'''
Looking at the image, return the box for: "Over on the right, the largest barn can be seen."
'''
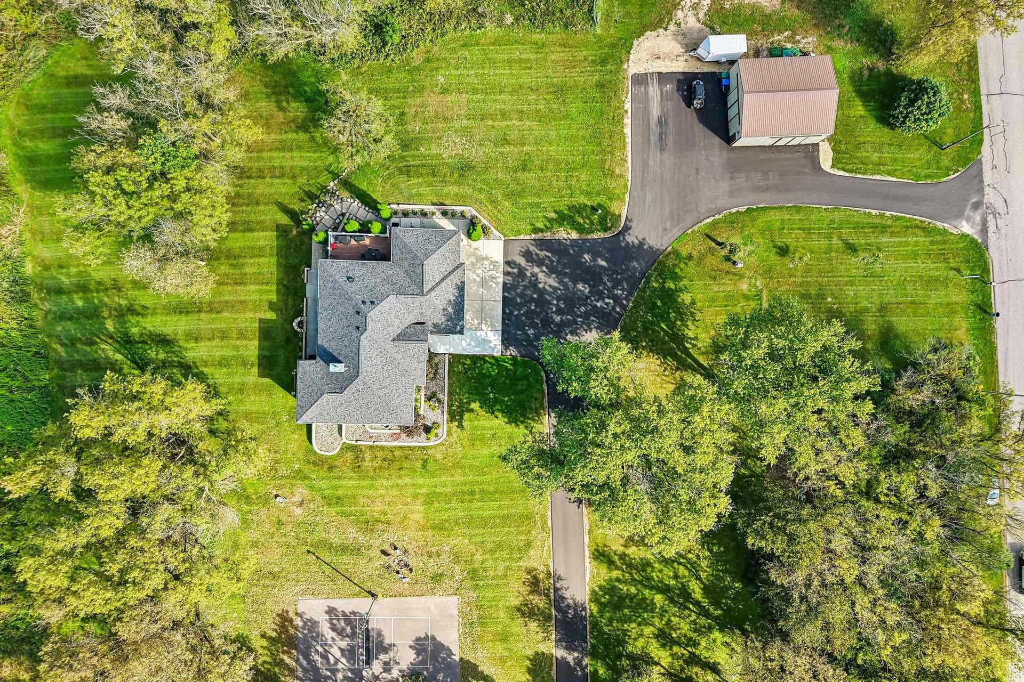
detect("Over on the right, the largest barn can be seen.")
[728,56,841,146]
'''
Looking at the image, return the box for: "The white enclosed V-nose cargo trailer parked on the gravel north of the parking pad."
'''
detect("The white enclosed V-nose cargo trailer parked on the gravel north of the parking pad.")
[687,35,747,62]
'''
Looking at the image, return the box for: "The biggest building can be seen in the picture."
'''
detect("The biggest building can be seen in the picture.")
[296,227,466,425]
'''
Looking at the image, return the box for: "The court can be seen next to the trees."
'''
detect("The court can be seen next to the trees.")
[295,596,460,682]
